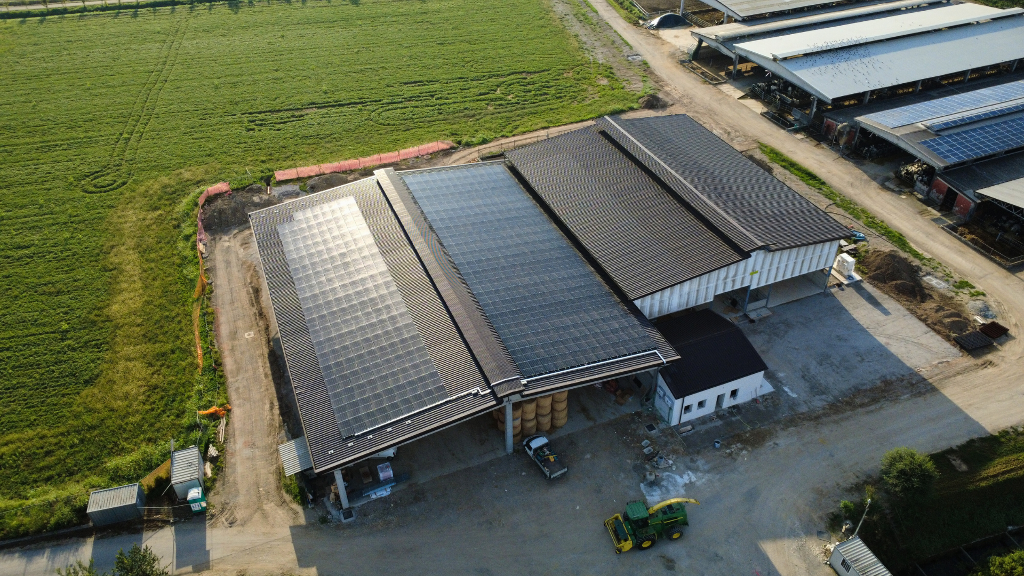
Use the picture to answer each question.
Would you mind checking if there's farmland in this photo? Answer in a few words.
Yes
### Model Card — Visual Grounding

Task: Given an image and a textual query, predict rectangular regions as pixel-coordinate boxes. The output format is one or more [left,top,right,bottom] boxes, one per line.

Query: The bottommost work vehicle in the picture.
[604,498,705,560]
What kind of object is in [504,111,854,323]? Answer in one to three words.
barn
